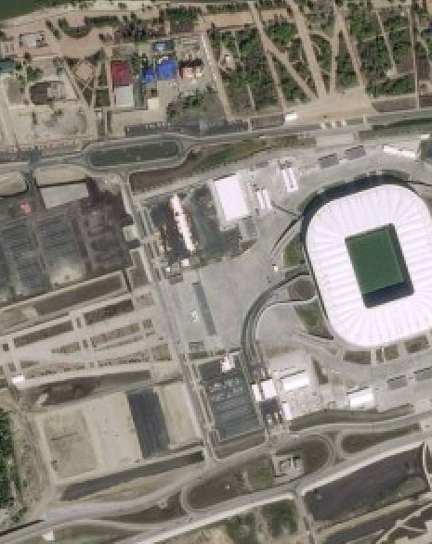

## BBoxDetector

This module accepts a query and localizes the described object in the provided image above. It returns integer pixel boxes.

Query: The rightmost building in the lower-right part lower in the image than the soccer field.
[347,390,375,407]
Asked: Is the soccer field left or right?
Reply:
right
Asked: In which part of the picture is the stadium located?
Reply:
right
